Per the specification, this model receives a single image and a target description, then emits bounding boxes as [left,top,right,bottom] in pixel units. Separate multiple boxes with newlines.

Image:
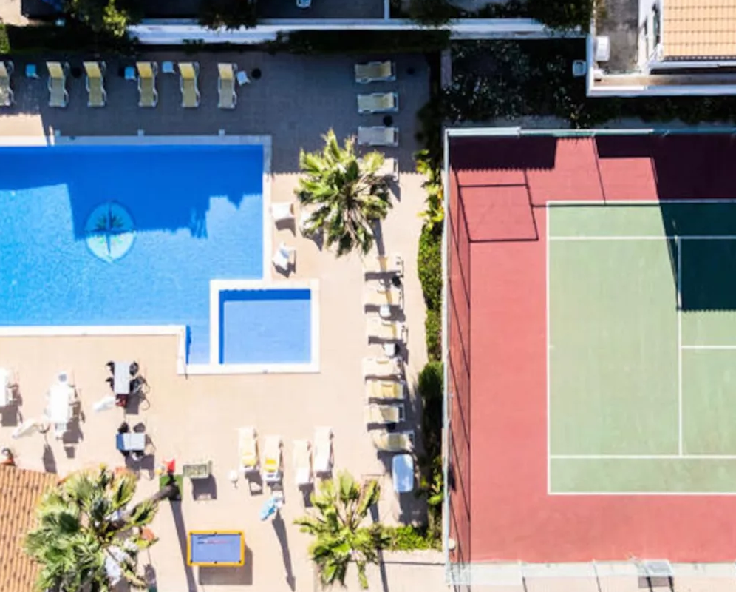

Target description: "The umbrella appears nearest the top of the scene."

[94,394,124,407]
